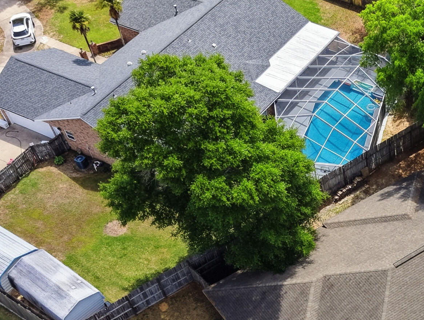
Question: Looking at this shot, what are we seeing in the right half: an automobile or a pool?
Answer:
pool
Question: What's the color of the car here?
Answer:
white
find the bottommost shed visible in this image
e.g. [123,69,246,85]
[6,253,111,320]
